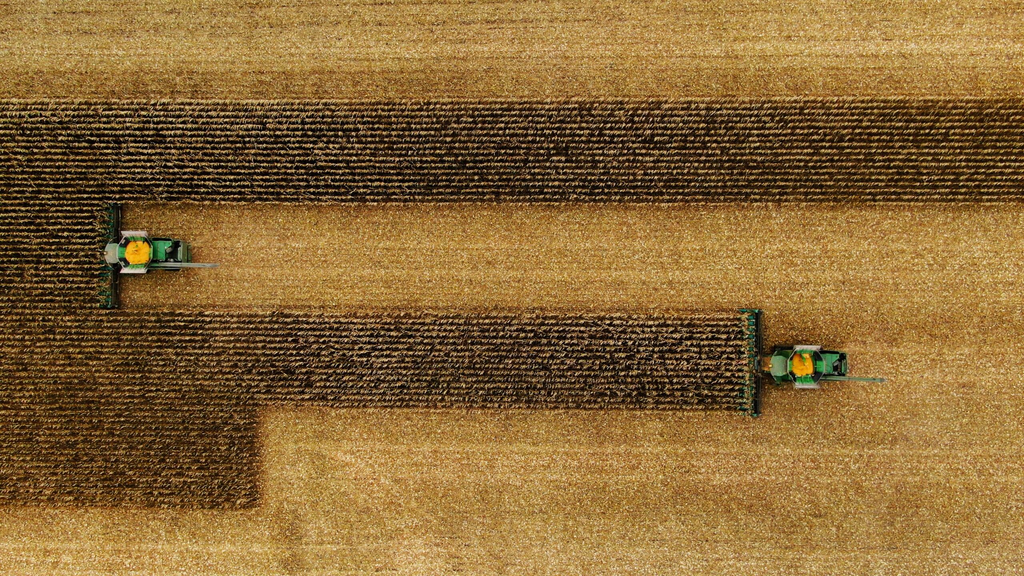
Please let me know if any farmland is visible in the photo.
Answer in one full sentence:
Yes, some farmland is visible.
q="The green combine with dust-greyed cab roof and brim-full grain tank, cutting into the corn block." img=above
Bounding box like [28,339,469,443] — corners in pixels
[100,203,219,306]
